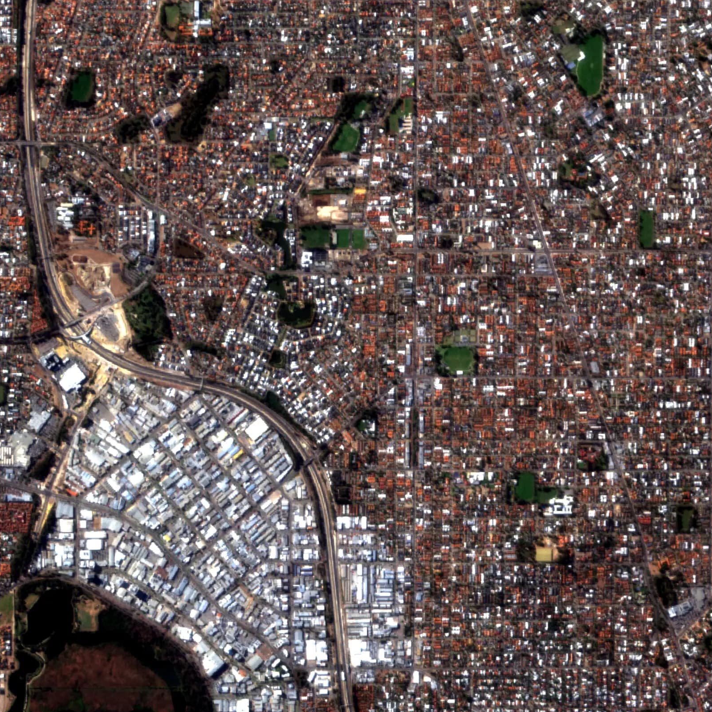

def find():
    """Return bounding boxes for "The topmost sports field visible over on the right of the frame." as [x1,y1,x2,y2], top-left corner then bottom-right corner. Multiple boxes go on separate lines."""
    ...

[576,33,603,96]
